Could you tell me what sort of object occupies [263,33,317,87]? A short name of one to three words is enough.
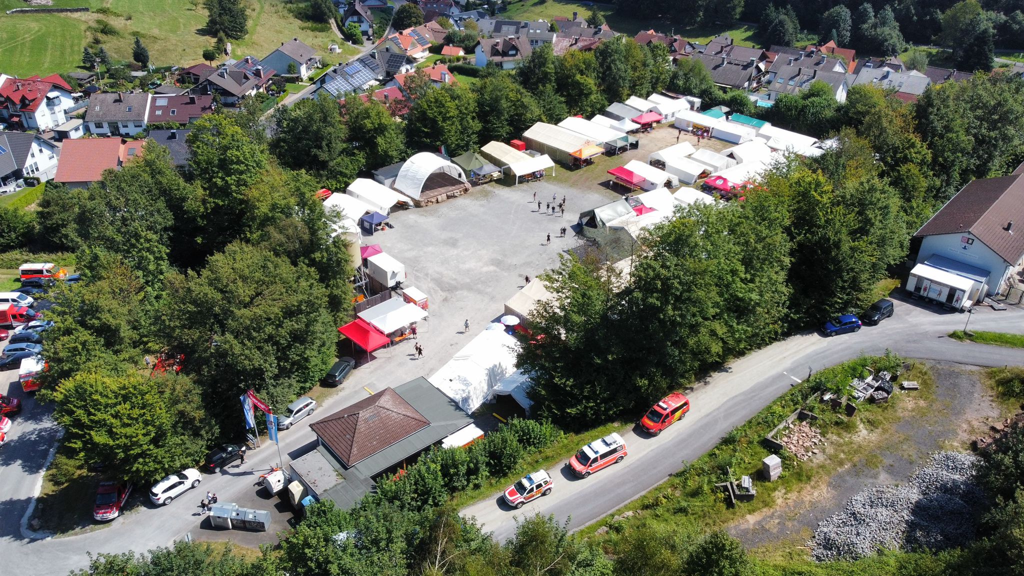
house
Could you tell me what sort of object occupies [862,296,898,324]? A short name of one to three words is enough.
car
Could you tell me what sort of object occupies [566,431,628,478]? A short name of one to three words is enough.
van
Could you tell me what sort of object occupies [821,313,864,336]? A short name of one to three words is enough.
car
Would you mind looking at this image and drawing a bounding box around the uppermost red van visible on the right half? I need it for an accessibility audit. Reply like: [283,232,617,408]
[638,390,691,436]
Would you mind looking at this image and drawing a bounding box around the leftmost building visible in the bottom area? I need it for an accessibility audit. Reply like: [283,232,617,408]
[288,379,478,516]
